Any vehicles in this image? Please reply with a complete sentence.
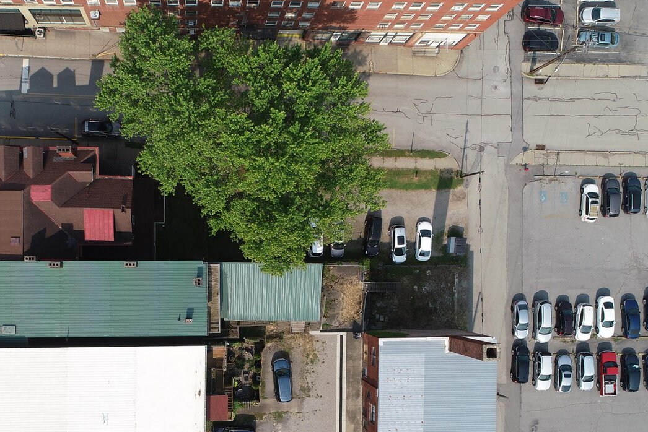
Yes, the picture does show a vehicle.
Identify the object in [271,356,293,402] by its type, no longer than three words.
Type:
car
